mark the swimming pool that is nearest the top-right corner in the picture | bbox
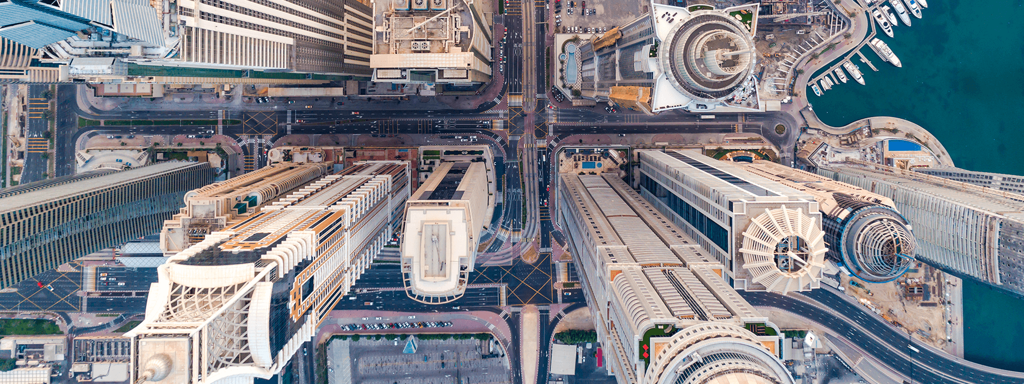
[888,139,922,152]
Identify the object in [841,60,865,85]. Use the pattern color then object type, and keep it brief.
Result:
white boat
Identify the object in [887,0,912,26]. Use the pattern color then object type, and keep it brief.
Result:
white boat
